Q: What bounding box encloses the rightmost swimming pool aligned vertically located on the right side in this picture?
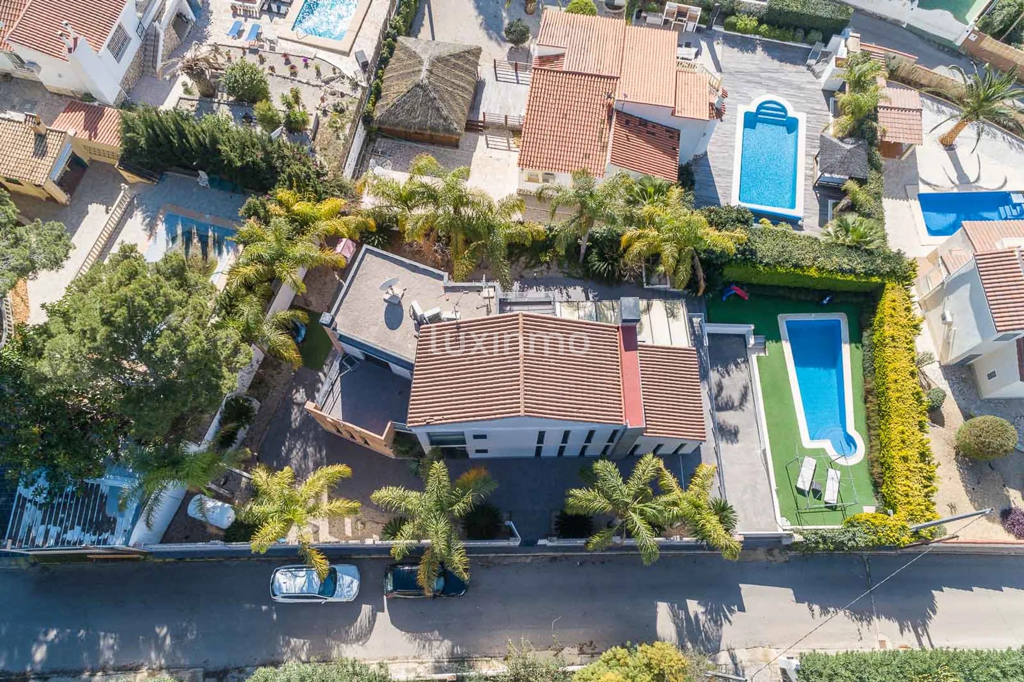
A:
[779,314,864,464]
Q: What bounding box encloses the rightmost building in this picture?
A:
[911,219,1024,398]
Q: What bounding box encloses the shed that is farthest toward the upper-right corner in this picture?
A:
[867,86,924,163]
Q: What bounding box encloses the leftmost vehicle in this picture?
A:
[269,561,361,608]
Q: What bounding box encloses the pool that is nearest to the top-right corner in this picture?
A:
[910,185,1024,242]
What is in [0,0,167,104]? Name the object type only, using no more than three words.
house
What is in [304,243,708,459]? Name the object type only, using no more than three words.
house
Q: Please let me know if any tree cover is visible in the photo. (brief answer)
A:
Yes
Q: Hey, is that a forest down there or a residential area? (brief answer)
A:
residential area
